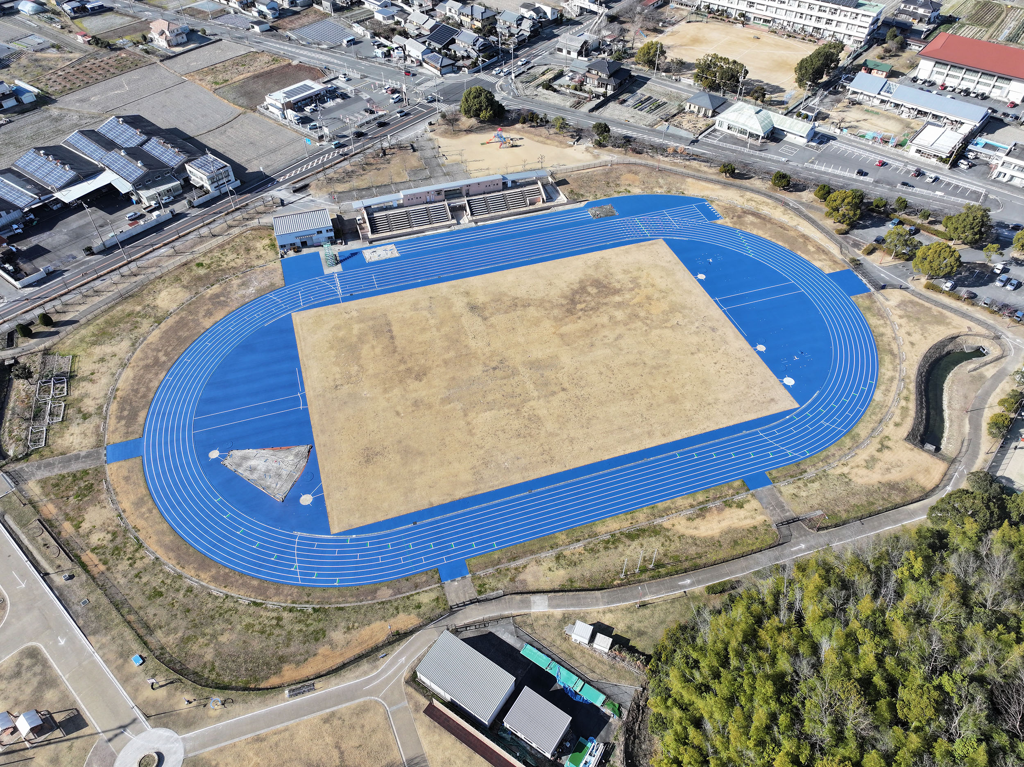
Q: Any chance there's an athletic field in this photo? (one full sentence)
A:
Yes, I can see an athletic field in this picture.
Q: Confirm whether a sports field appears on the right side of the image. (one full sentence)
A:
Yes, you'll find a sports field on the right side of the image.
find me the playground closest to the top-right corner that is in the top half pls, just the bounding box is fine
[820,100,922,146]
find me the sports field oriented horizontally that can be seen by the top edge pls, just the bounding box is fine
[624,19,836,111]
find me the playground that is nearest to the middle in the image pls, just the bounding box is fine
[431,132,619,178]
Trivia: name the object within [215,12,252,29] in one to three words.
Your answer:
solar array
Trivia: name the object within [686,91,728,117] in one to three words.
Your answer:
house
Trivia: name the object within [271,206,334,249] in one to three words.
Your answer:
building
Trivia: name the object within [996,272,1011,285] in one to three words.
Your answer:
vehicle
